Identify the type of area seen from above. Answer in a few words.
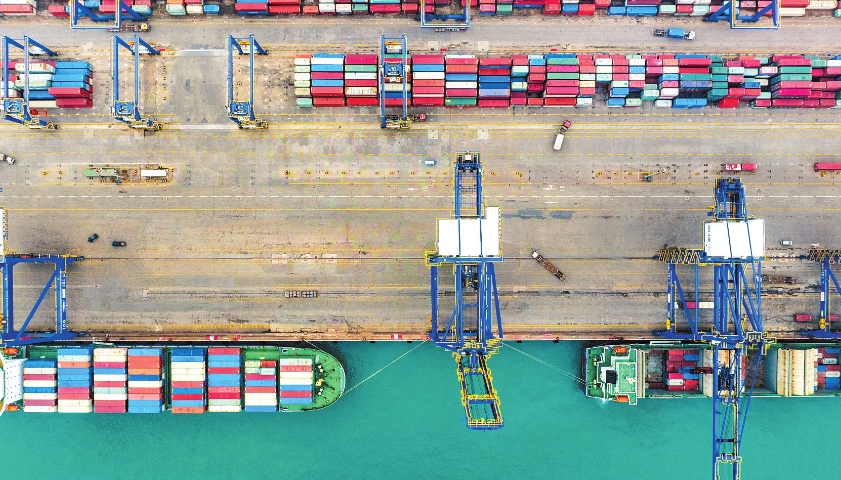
port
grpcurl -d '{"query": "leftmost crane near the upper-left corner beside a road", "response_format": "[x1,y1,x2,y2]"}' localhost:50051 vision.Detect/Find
[0,35,64,130]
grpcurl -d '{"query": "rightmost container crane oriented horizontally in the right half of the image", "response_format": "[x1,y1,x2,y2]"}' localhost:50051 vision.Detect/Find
[696,0,780,30]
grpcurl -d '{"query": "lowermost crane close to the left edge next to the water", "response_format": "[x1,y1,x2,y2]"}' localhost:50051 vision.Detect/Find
[0,201,86,359]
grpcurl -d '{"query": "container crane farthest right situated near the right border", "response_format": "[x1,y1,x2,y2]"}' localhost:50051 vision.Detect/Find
[796,217,841,344]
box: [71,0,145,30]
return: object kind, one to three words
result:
container crane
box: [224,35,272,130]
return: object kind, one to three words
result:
container crane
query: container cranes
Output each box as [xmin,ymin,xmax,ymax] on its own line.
[377,35,412,130]
[0,35,64,130]
[696,0,780,30]
[71,0,145,30]
[224,35,272,130]
[796,217,841,344]
[649,176,779,480]
[109,35,165,130]
[417,151,509,432]
[411,0,470,30]
[0,201,86,359]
